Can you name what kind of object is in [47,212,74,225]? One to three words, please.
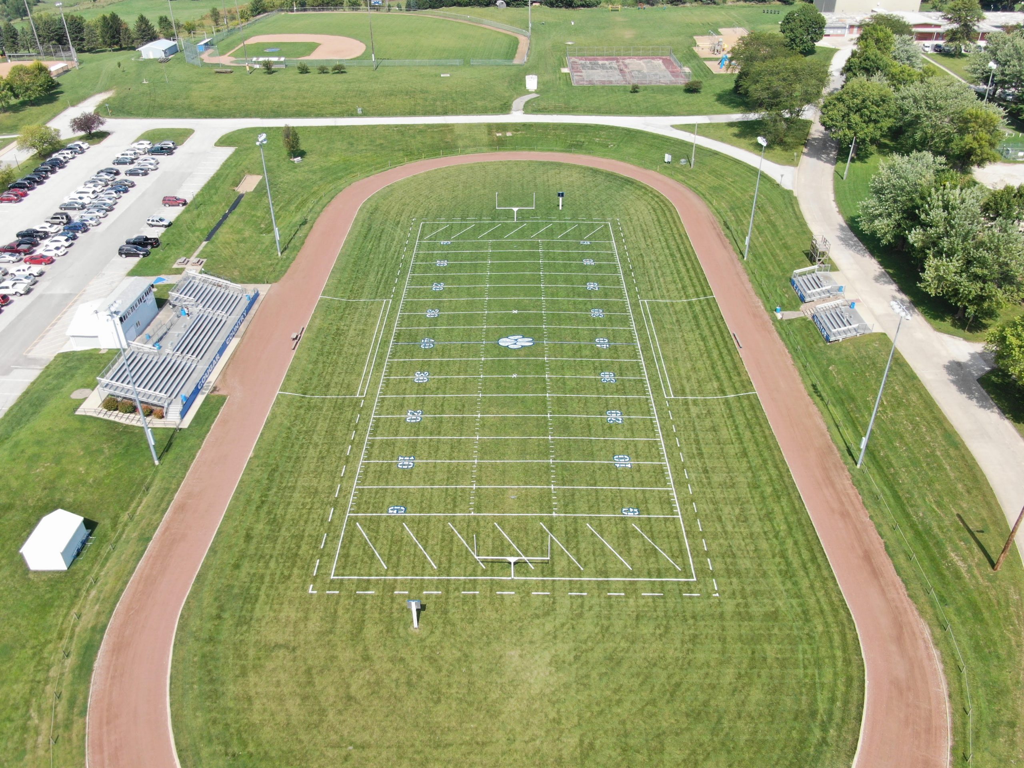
vehicle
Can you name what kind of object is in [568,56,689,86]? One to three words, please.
tennis court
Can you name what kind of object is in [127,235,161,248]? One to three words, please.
vehicle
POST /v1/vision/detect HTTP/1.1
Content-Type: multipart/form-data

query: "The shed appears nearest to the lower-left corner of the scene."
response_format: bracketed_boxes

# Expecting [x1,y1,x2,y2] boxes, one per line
[20,508,95,569]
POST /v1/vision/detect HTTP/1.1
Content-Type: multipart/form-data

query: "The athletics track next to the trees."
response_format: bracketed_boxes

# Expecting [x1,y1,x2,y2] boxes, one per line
[87,152,946,768]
